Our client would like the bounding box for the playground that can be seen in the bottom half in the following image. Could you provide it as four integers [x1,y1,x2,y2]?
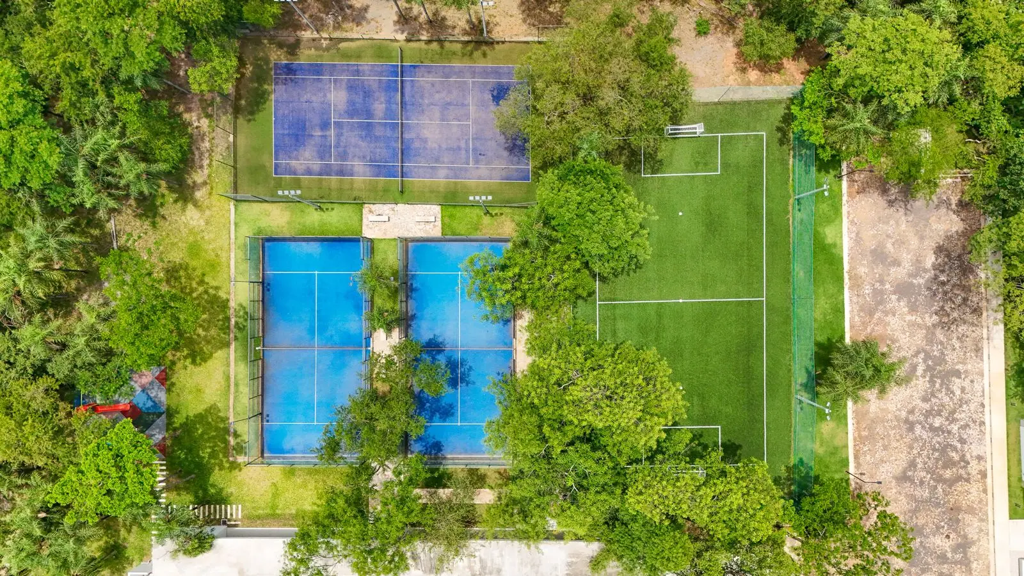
[75,366,166,459]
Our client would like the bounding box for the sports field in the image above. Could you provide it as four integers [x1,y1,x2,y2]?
[571,99,794,502]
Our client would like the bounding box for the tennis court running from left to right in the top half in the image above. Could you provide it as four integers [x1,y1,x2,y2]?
[234,41,570,205]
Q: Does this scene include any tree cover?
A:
Yes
